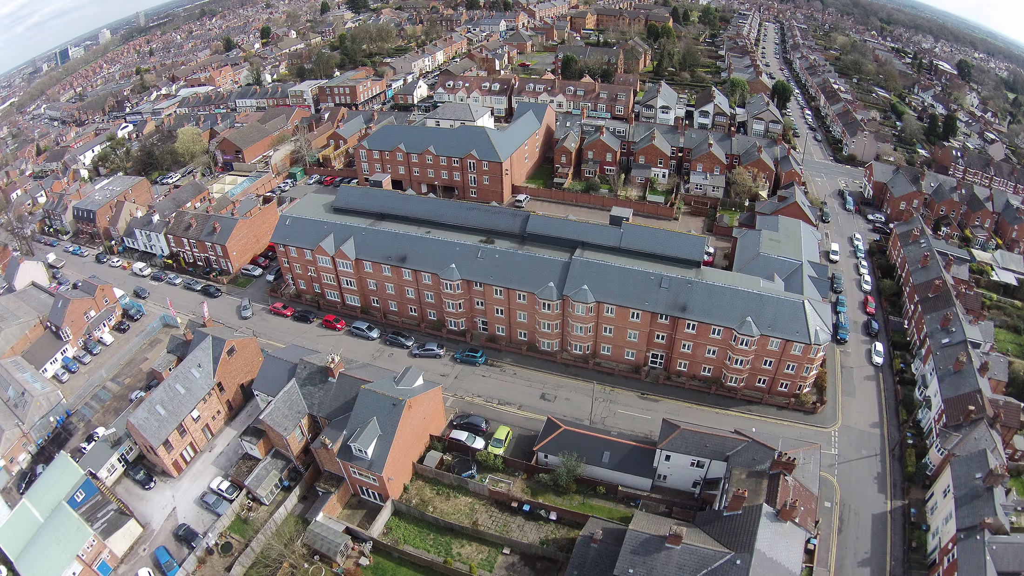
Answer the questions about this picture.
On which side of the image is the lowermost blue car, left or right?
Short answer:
left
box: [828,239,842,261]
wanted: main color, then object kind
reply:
white vehicle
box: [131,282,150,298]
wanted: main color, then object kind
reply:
gray car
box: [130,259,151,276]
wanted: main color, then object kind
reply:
white vehicle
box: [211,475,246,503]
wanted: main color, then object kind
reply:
white car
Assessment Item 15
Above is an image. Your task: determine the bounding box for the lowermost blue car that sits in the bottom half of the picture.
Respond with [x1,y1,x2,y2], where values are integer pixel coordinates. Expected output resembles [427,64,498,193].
[147,544,182,576]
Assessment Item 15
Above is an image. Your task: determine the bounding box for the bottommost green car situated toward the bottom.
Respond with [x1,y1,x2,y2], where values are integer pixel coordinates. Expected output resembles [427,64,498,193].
[489,425,512,454]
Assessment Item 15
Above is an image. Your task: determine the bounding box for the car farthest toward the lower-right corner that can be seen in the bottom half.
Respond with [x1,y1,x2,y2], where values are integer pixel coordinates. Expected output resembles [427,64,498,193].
[869,342,885,364]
